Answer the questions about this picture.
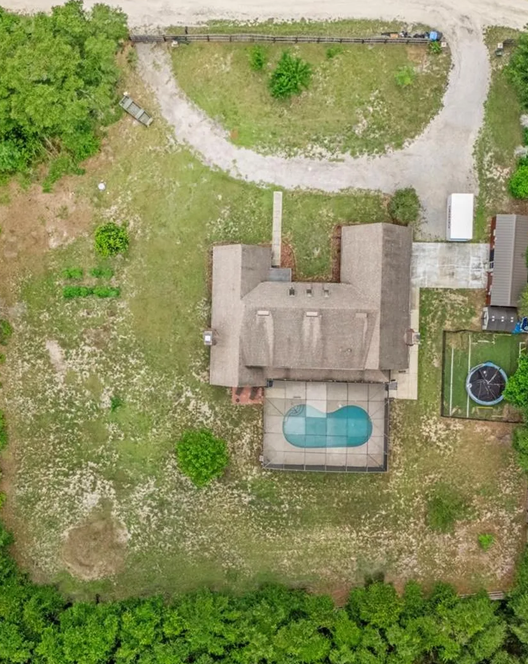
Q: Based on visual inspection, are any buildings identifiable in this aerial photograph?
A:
Yes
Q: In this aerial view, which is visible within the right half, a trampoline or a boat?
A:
trampoline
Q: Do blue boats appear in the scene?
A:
No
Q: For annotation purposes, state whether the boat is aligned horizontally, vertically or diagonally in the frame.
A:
diagonally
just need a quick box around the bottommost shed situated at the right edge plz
[483,307,522,332]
